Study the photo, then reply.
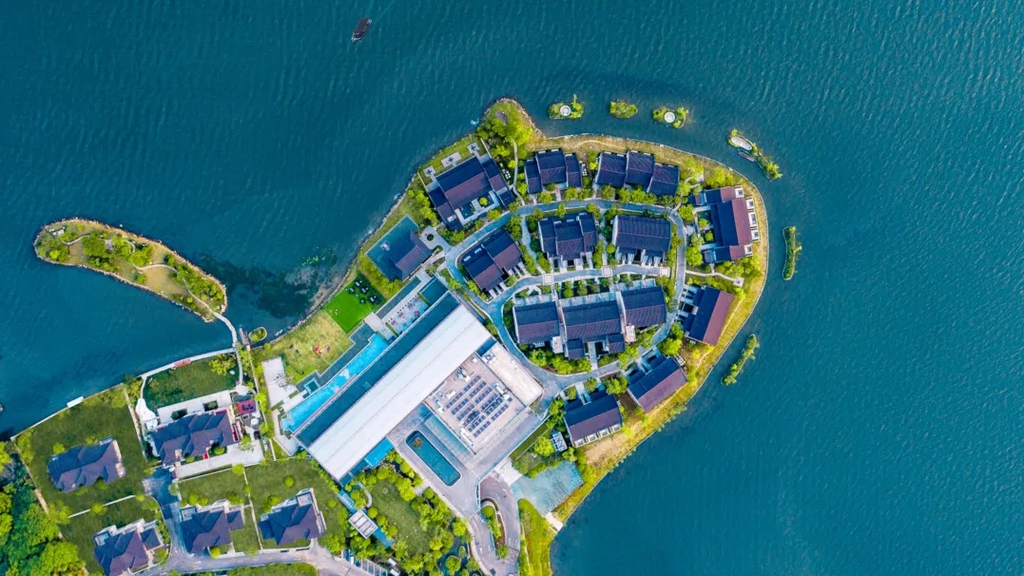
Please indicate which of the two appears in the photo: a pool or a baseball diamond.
pool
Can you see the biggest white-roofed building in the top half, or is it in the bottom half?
bottom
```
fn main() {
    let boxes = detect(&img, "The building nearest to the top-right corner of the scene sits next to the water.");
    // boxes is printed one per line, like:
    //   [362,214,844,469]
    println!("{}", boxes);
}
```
[687,186,761,265]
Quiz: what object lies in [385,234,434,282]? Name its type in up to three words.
building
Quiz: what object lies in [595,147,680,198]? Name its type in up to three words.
house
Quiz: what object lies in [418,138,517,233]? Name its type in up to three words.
house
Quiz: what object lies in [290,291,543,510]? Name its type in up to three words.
building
